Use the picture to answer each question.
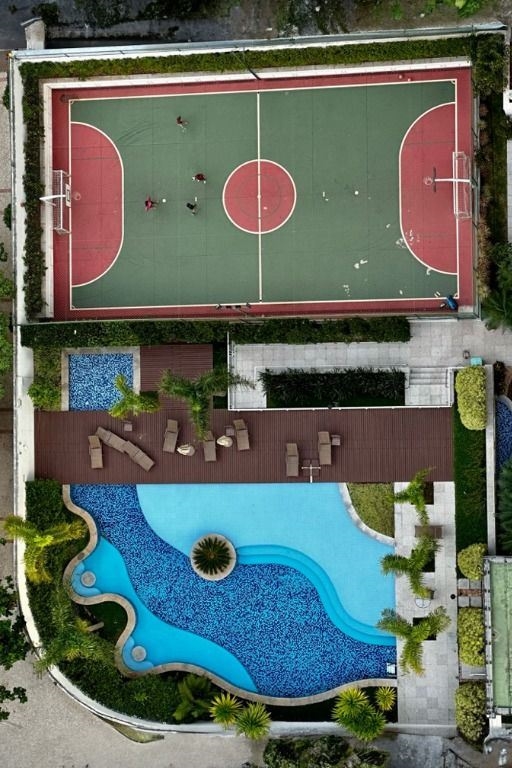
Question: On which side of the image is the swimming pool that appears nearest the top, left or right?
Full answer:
The swimming pool that appears nearest the top sits on the left side.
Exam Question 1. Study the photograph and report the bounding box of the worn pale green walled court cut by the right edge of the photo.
[487,555,512,716]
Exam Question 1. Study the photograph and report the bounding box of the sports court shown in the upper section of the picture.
[52,68,475,322]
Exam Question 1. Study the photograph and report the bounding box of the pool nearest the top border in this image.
[62,348,141,410]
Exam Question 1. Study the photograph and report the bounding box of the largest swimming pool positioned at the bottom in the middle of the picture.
[63,482,403,706]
